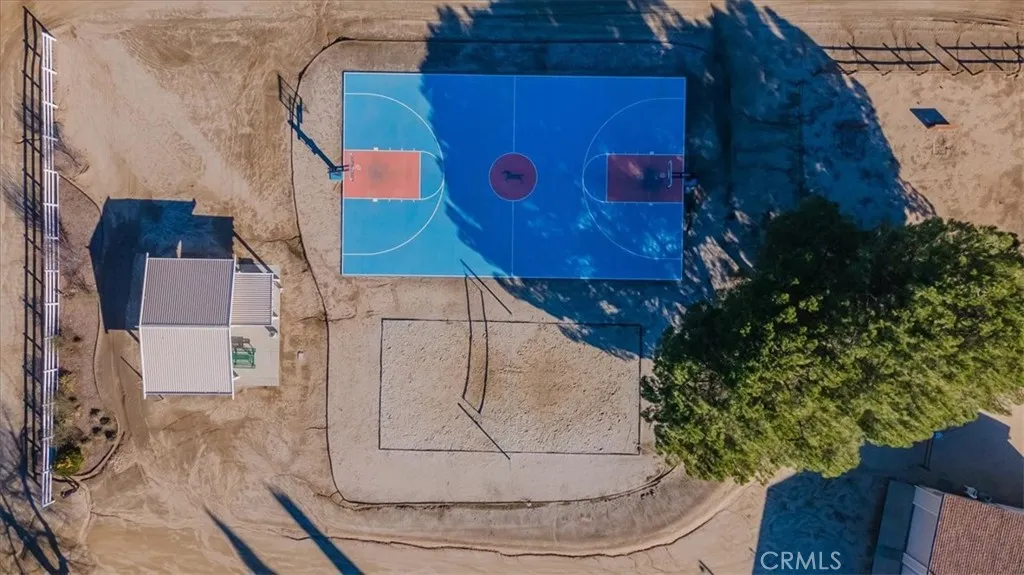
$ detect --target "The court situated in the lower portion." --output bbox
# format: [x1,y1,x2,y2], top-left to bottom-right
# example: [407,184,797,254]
[378,318,642,456]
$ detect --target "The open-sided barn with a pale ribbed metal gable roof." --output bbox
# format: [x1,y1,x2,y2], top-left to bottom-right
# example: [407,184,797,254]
[138,256,279,399]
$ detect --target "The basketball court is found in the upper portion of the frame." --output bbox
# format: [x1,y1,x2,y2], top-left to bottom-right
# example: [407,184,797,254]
[341,72,687,280]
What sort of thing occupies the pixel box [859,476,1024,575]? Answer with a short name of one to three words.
house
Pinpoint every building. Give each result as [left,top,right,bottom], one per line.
[859,476,1024,575]
[138,256,279,399]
